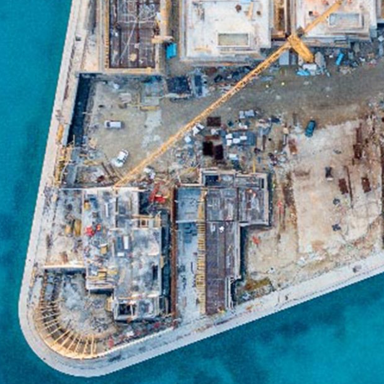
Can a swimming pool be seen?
No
